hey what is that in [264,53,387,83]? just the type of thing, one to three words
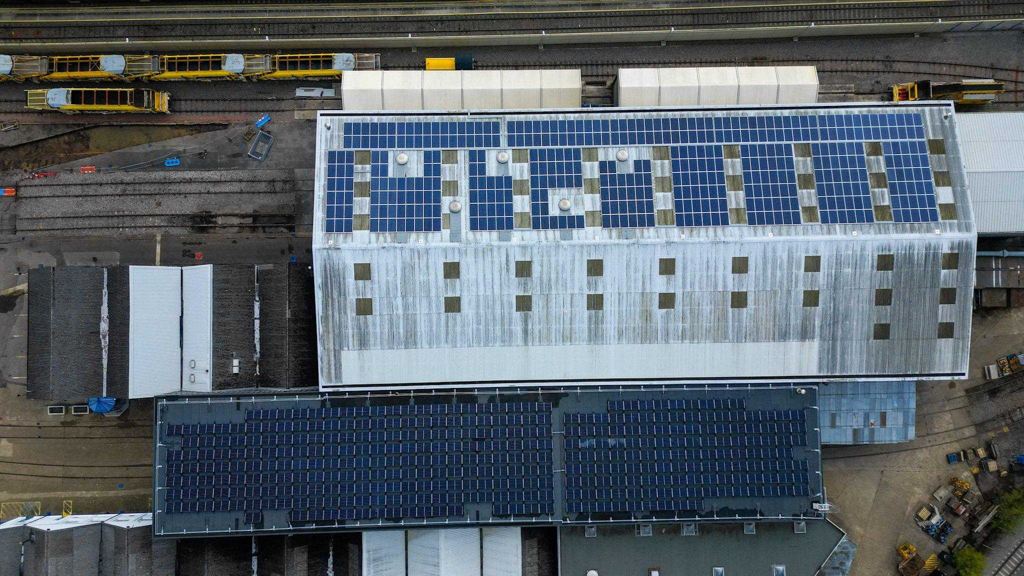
rail car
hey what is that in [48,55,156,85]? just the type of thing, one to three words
rail car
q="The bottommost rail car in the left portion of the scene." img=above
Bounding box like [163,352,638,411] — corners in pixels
[25,88,175,117]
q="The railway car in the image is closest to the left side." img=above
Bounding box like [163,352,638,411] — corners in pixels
[0,56,45,85]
